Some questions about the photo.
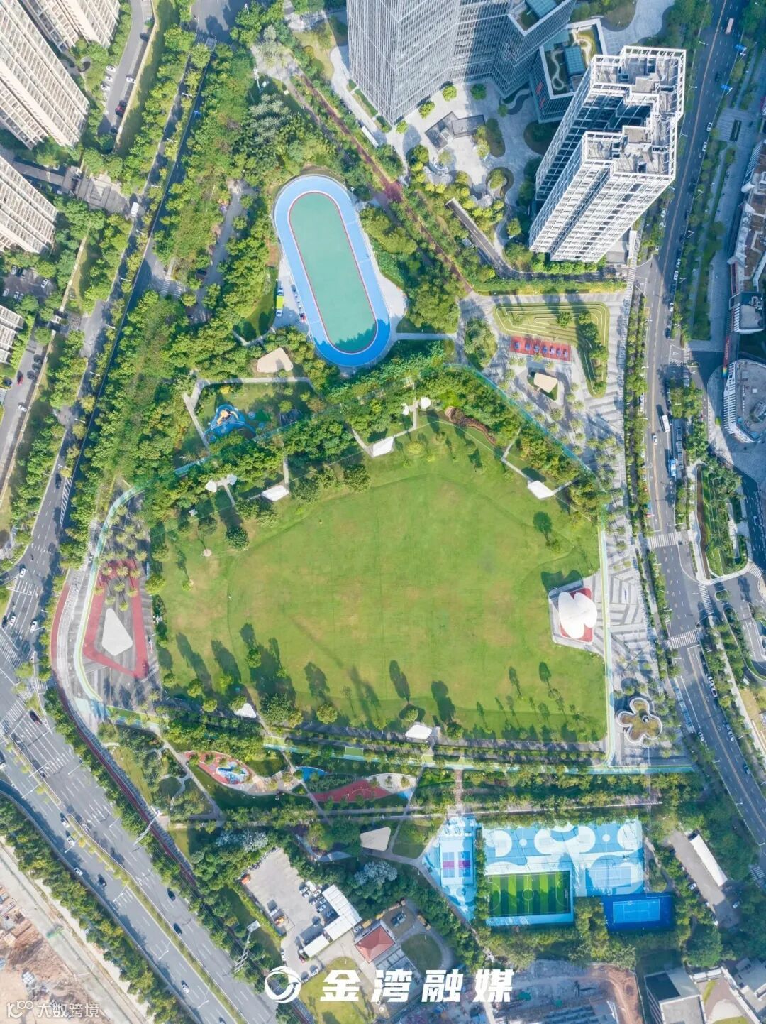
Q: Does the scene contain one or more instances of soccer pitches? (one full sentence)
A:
Yes, the picture does show a soccer pitch.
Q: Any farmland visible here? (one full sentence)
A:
No, there's no farmland in this view.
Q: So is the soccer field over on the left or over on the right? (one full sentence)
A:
It is on the right.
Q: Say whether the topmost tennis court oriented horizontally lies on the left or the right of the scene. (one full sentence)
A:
You can find the topmost tennis court oriented horizontally on the right side of the picture.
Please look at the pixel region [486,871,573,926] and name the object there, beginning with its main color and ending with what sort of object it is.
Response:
green soccer field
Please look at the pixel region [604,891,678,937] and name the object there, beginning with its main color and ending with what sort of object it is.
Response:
blue tennis court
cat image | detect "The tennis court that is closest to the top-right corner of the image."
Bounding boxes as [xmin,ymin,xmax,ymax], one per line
[510,336,572,361]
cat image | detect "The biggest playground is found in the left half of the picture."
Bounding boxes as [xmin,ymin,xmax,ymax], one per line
[204,404,260,441]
